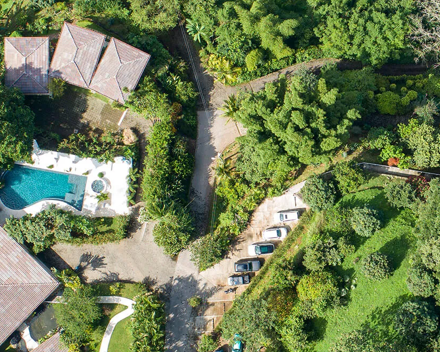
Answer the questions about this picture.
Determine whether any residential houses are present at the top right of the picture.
No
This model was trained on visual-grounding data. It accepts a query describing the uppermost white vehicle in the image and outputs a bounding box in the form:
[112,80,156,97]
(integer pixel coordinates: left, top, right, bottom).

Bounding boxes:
[273,210,299,222]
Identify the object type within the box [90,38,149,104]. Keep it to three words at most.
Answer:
house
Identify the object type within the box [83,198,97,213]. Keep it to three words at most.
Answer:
umbrella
